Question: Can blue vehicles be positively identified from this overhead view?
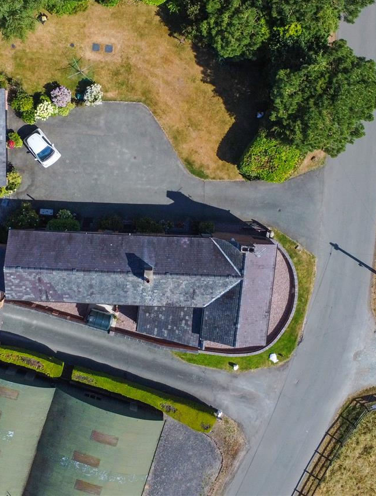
No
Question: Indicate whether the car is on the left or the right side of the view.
left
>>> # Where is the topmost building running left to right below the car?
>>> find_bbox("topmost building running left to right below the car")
[0,228,279,347]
